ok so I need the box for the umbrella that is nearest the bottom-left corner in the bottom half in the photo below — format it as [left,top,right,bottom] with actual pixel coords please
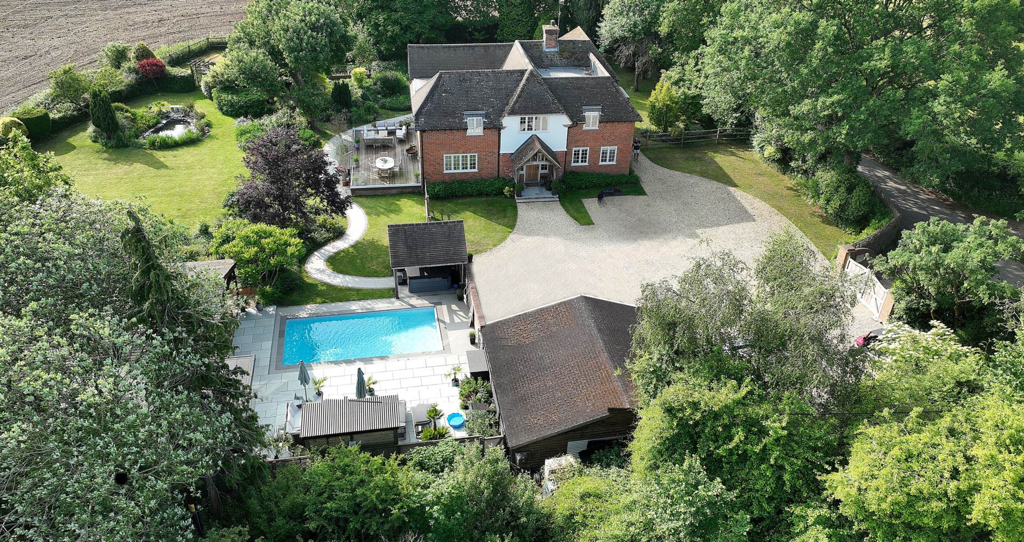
[296,358,311,395]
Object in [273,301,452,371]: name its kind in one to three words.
swimming pool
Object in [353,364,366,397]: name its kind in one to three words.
umbrella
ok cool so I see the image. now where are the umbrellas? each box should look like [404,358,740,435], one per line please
[353,364,366,397]
[296,358,311,395]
